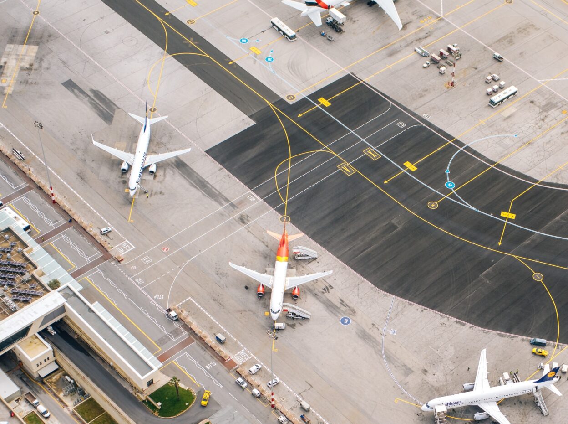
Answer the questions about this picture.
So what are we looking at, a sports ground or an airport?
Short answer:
airport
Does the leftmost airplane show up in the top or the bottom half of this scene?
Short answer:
top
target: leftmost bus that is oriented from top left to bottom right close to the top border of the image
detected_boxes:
[270,18,298,41]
